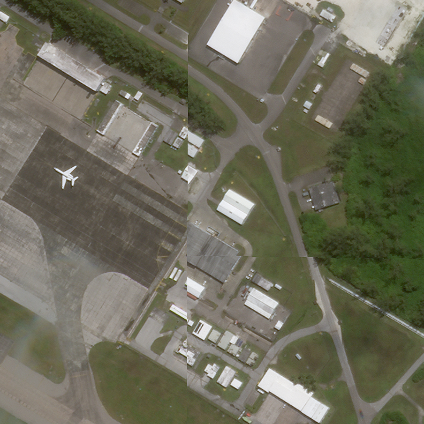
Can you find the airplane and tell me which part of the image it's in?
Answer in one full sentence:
The airplane is located in the left region of the scene.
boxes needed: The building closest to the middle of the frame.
[217,189,256,225]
